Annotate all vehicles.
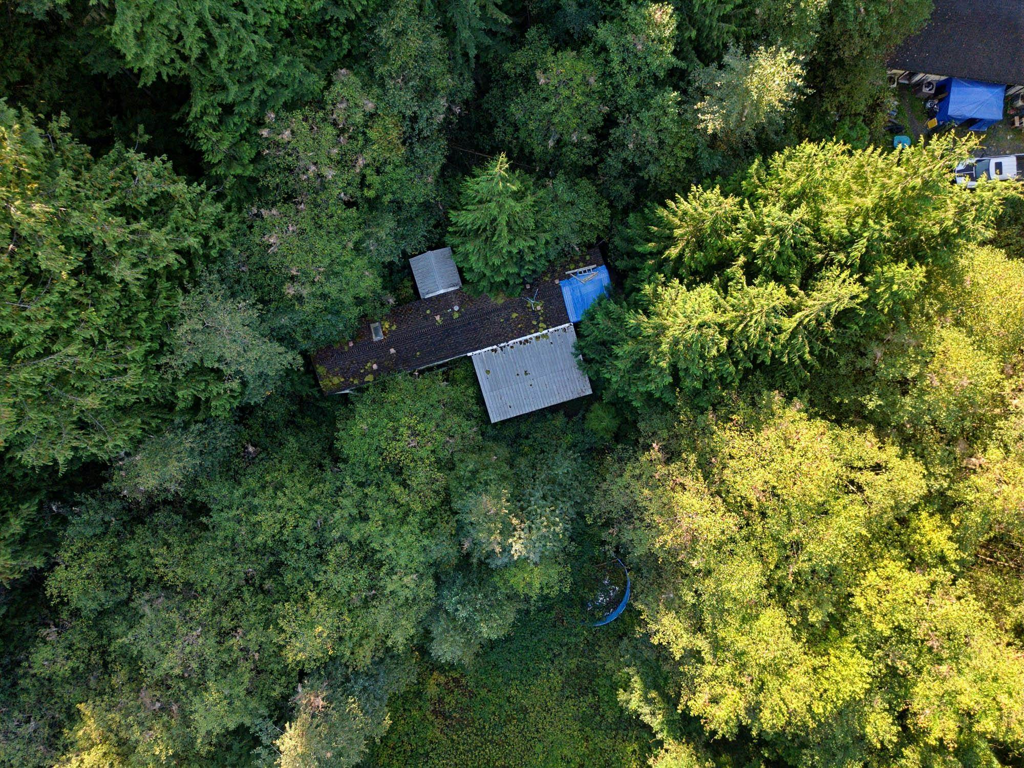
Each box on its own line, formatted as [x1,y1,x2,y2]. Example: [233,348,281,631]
[950,155,1024,191]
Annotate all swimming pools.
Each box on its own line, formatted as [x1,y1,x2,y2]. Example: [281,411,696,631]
[560,551,631,627]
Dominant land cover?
trees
